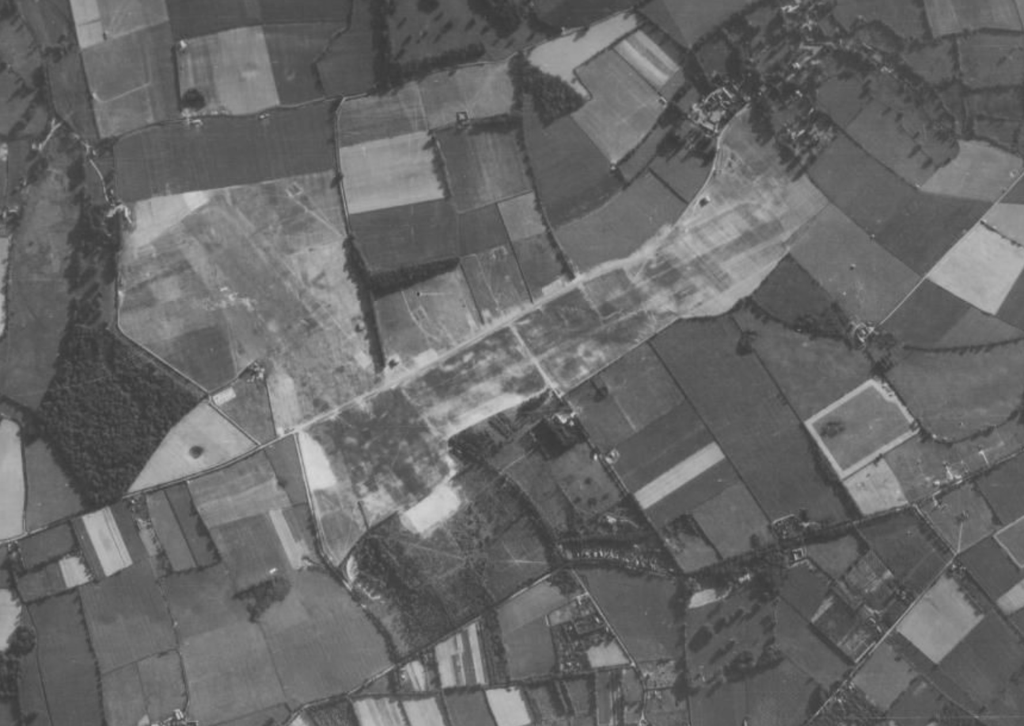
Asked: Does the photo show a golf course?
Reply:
No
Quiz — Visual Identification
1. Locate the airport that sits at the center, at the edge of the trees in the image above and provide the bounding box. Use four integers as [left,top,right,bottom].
[117,107,830,567]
